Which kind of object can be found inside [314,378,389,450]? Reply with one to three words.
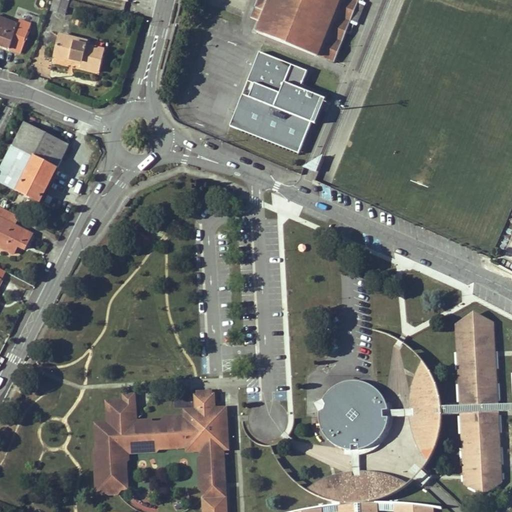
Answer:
building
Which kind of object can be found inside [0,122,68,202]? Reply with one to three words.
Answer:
building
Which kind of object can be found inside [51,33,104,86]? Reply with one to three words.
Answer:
house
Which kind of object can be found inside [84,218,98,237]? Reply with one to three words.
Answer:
vehicle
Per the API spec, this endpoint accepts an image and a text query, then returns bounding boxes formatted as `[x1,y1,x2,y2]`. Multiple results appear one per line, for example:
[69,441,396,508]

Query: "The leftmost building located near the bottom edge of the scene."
[94,390,228,512]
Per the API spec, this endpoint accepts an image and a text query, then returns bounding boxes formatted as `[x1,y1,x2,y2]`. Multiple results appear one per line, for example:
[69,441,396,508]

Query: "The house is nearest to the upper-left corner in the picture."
[0,14,32,54]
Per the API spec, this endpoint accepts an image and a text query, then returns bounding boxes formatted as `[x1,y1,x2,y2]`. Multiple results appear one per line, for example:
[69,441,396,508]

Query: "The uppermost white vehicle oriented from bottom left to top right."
[136,152,158,170]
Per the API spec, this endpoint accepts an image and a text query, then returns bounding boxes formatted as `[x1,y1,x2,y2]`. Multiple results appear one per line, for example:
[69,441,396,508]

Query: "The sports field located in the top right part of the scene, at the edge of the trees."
[331,0,512,254]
